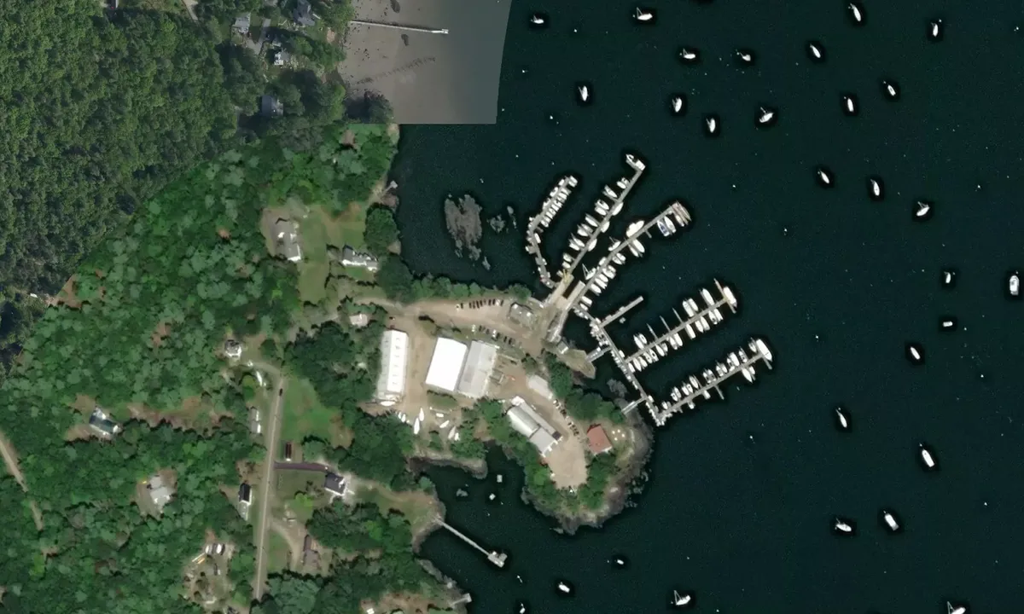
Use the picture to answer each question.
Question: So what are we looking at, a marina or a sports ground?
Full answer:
What you see here is a marina.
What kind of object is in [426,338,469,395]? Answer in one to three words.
shed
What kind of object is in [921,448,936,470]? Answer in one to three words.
boat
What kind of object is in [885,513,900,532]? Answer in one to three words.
boat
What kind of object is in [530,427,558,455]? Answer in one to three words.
building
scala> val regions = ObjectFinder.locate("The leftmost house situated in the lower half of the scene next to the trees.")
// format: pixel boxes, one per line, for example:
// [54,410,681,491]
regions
[90,408,119,437]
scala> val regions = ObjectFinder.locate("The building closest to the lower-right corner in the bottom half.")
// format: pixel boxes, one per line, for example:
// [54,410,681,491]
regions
[588,426,612,453]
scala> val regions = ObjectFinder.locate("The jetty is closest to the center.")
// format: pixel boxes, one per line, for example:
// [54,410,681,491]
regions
[547,274,586,313]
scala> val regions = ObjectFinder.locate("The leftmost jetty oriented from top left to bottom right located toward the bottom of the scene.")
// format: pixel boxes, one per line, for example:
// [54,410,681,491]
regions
[439,519,508,567]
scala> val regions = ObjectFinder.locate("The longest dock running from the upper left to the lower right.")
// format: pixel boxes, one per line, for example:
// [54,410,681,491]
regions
[573,305,661,425]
